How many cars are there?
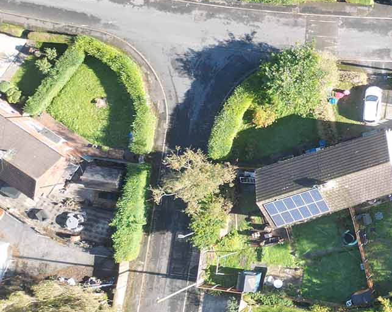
one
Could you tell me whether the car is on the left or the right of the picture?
right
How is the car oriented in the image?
from top to bottom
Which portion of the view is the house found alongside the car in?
right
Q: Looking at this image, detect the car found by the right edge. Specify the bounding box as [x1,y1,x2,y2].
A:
[363,85,384,125]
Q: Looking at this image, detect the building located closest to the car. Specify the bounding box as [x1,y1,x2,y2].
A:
[255,129,392,230]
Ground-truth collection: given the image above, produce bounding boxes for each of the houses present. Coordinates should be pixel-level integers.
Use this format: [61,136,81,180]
[0,104,91,201]
[255,129,392,230]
